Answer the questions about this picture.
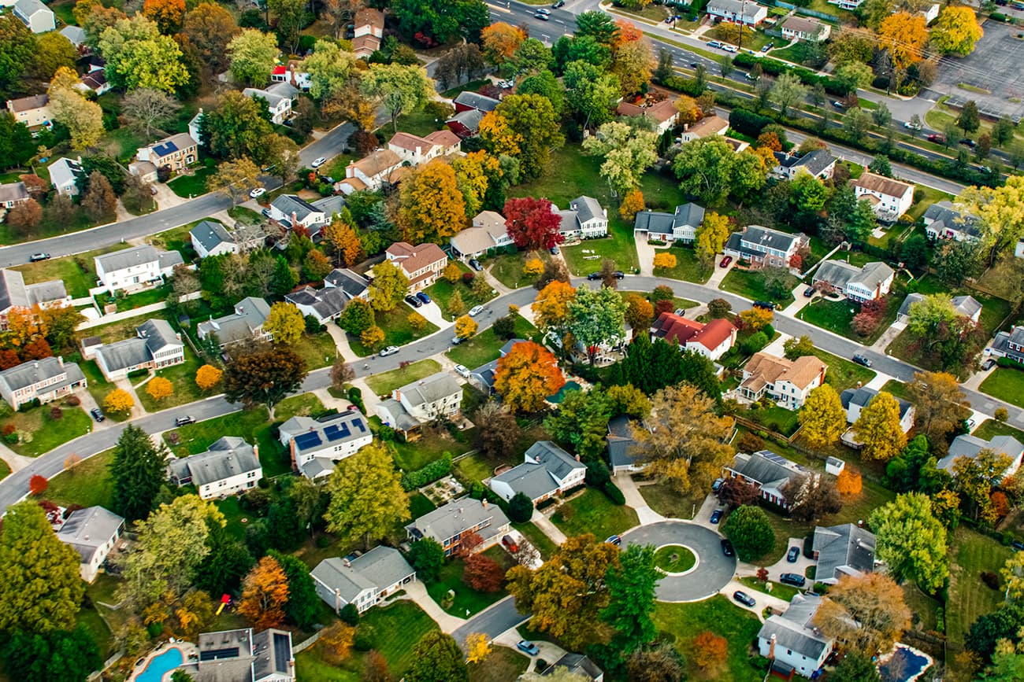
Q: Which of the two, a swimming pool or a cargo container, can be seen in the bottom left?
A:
swimming pool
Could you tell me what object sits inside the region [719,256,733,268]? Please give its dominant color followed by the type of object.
red vehicle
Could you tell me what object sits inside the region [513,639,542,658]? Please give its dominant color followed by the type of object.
blue car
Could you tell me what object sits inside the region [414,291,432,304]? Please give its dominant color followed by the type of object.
blue vehicle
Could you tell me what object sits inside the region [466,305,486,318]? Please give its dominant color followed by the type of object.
white vehicle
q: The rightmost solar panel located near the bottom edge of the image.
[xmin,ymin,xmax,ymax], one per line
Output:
[274,634,289,673]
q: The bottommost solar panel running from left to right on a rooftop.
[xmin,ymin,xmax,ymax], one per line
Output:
[201,648,239,661]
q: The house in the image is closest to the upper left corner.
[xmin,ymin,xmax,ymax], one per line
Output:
[8,0,58,34]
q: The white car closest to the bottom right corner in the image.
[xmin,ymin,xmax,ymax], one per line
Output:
[963,416,980,431]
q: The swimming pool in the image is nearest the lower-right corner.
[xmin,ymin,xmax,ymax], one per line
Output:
[873,642,933,682]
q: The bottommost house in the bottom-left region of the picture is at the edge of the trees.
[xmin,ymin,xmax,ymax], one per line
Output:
[198,629,300,682]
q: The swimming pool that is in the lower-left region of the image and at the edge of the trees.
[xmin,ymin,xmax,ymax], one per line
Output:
[125,642,199,682]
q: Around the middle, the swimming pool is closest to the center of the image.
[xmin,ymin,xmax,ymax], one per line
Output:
[540,375,591,409]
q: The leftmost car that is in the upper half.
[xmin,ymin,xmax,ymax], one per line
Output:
[30,251,51,263]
